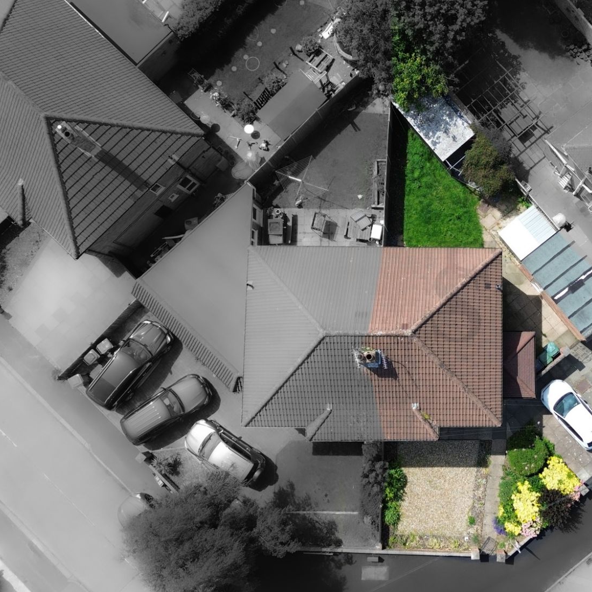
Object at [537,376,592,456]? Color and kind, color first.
white car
